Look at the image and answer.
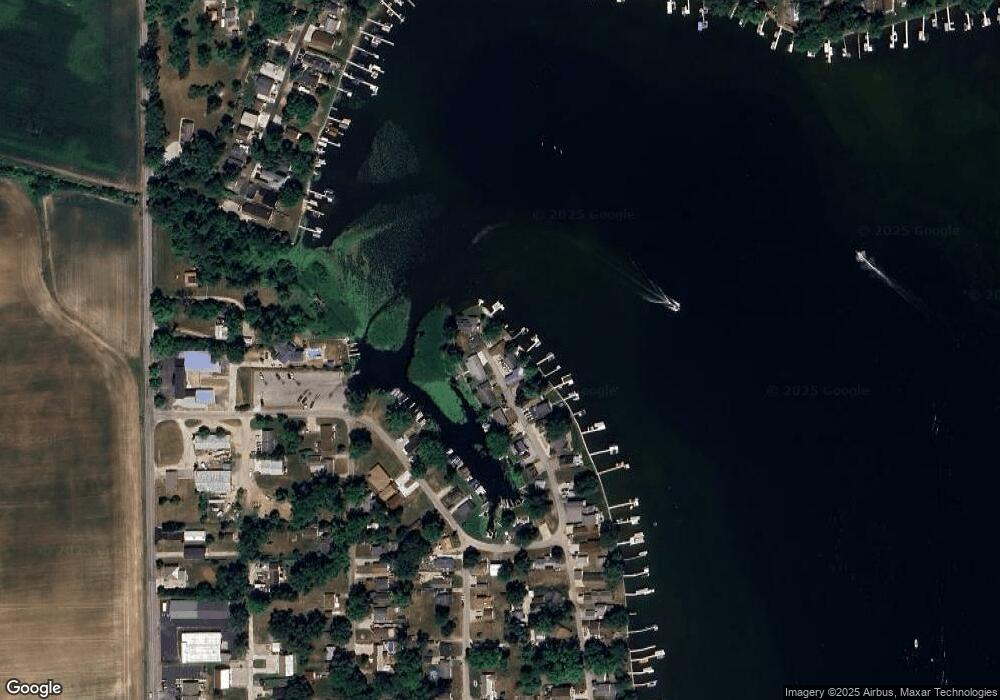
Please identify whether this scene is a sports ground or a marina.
marina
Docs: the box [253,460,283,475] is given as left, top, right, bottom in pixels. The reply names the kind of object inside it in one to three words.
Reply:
building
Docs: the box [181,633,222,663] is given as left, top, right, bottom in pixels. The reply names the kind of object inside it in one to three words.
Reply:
building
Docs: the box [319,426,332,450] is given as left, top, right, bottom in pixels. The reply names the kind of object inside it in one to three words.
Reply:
house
